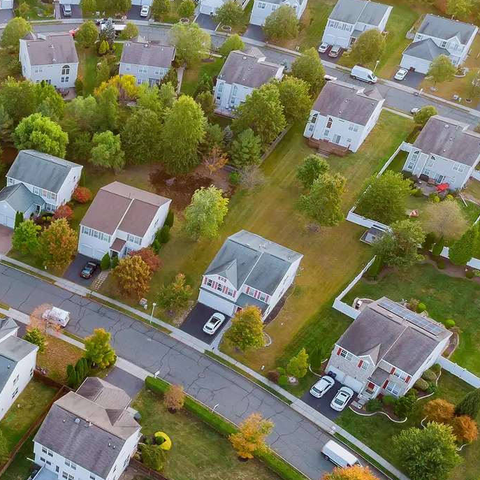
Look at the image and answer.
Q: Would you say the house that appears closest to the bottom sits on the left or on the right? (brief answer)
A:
left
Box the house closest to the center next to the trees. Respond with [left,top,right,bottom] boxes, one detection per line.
[202,230,304,320]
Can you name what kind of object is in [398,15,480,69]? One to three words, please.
house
